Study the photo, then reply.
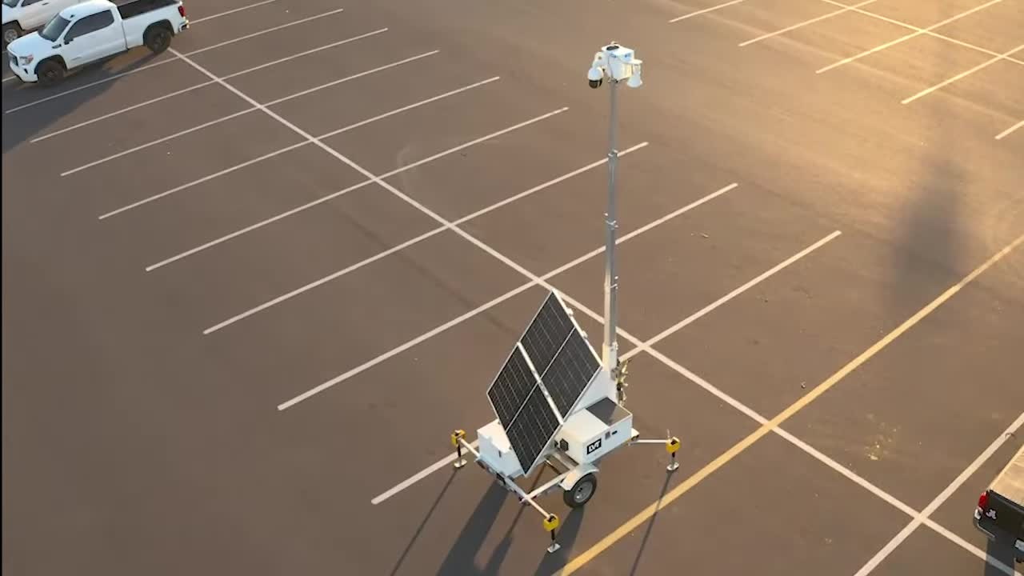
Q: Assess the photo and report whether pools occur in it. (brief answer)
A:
No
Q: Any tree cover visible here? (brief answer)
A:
No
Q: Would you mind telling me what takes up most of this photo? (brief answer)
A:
paved ground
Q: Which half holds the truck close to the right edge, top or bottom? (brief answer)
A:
bottom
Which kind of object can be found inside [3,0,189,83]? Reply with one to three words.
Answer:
truck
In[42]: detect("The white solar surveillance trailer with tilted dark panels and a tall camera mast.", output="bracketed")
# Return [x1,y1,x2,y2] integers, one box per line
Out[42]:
[450,43,681,554]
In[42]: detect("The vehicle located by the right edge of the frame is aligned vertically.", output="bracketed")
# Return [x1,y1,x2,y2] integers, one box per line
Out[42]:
[977,458,1024,567]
